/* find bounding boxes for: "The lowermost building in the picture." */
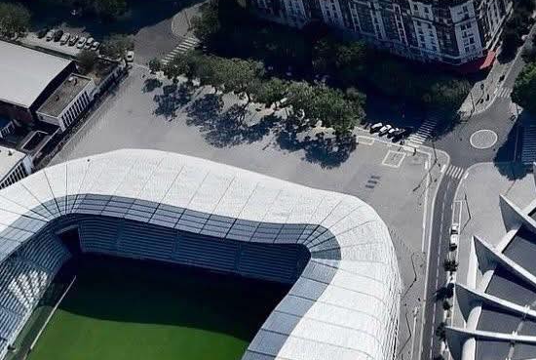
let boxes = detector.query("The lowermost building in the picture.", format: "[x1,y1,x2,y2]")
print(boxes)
[0,145,31,189]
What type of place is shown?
sports ground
